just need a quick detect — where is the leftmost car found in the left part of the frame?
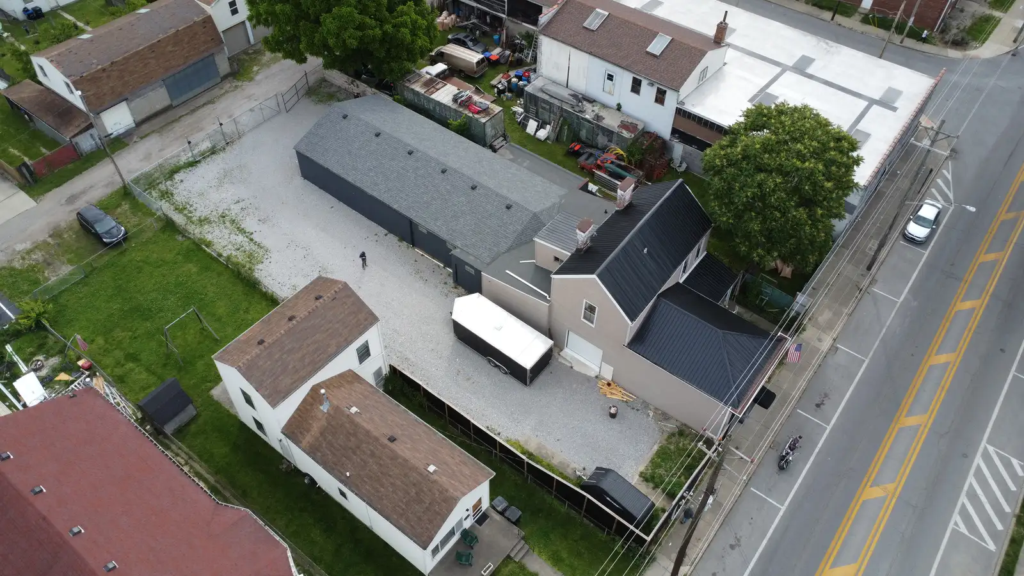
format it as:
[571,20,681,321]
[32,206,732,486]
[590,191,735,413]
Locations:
[66,196,124,243]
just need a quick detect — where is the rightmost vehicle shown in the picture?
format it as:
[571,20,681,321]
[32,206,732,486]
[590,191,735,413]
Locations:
[905,197,947,243]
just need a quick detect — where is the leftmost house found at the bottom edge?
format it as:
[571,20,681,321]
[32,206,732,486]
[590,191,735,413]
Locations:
[0,384,301,576]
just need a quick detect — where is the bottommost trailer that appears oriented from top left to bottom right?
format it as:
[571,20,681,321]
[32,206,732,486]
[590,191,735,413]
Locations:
[445,295,553,386]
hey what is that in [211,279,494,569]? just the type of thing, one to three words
house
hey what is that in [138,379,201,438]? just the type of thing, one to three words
shed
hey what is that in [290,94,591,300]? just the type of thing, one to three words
building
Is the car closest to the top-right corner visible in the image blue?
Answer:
No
